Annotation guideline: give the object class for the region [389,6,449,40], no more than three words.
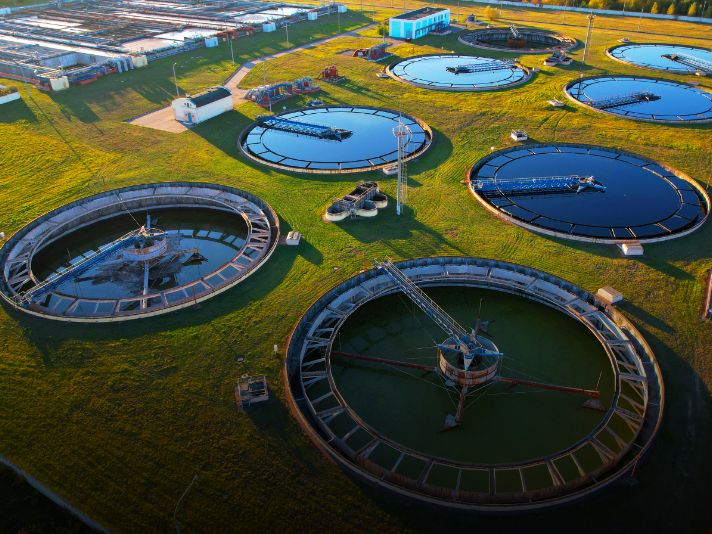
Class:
building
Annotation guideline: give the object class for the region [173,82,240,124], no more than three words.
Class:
shed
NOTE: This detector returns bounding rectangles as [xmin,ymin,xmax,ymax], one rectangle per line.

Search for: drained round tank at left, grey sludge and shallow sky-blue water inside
[0,182,282,323]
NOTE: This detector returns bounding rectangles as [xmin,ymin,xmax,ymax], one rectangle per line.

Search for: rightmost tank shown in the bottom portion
[286,257,665,512]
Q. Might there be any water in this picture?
Yes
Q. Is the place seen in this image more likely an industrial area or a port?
industrial area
